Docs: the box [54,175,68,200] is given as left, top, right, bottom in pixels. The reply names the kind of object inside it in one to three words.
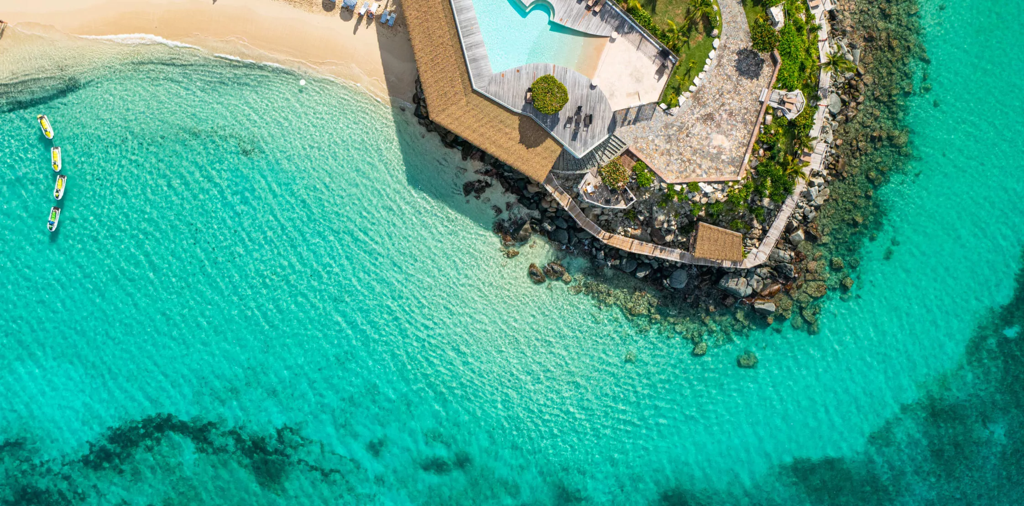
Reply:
boat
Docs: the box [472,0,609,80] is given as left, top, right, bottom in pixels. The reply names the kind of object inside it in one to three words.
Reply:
swimming pool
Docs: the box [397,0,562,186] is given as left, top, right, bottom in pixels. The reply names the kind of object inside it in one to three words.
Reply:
building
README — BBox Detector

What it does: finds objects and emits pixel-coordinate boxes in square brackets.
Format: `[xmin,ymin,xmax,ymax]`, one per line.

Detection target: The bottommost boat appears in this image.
[47,206,62,231]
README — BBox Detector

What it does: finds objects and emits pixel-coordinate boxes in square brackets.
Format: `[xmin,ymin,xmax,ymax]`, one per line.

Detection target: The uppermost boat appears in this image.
[39,113,53,138]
